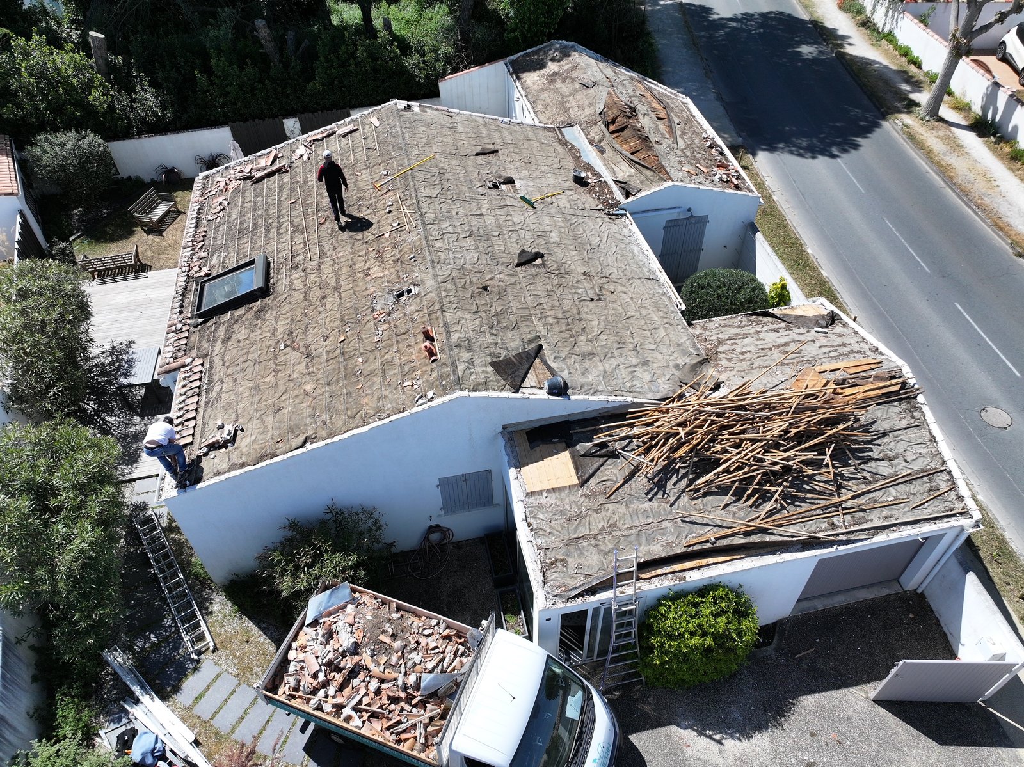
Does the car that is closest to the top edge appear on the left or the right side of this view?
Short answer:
right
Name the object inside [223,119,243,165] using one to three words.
umbrella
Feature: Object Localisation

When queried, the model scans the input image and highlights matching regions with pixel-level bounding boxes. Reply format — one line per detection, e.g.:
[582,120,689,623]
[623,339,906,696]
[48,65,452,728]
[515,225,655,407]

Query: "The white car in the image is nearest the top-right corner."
[997,35,1024,84]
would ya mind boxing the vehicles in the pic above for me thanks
[997,35,1024,84]
[253,577,627,767]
